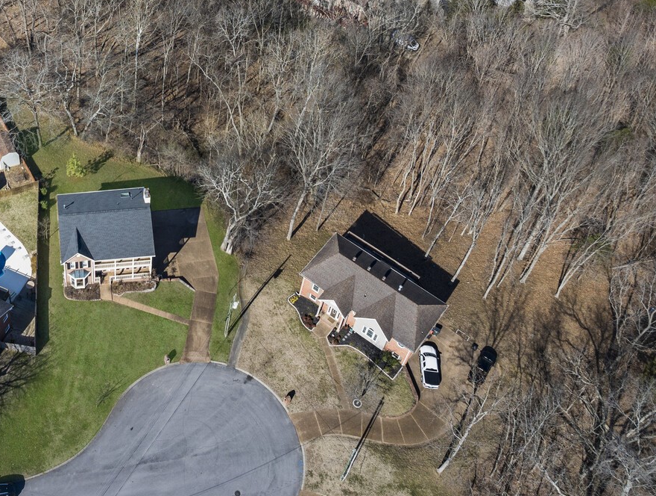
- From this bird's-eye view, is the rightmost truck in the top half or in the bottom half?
bottom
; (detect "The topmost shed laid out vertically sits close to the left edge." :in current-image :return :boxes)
[0,128,20,170]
